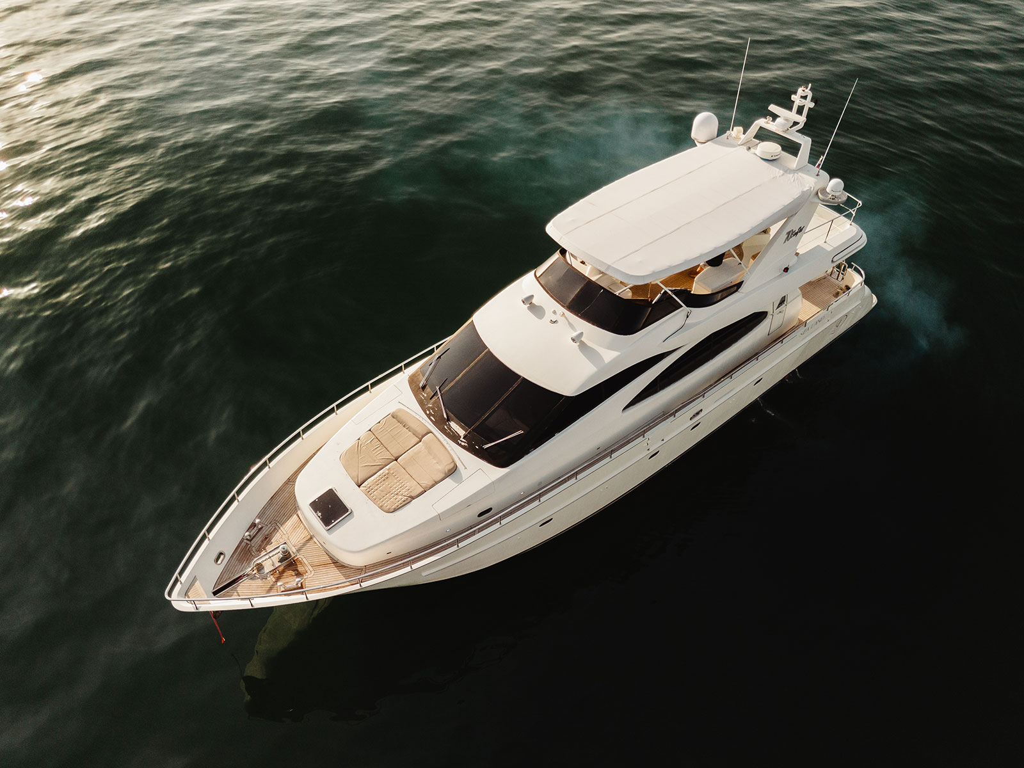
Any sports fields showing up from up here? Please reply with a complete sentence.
No, there's no sports field here.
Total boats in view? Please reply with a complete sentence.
In total, there is 1 boat in the scene.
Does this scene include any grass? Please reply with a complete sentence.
No, grass can't be seen anywhere here.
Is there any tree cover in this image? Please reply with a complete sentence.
No, tree cover can't be seen anywhere here.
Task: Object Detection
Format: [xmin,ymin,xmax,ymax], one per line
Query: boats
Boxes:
[165,38,872,620]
